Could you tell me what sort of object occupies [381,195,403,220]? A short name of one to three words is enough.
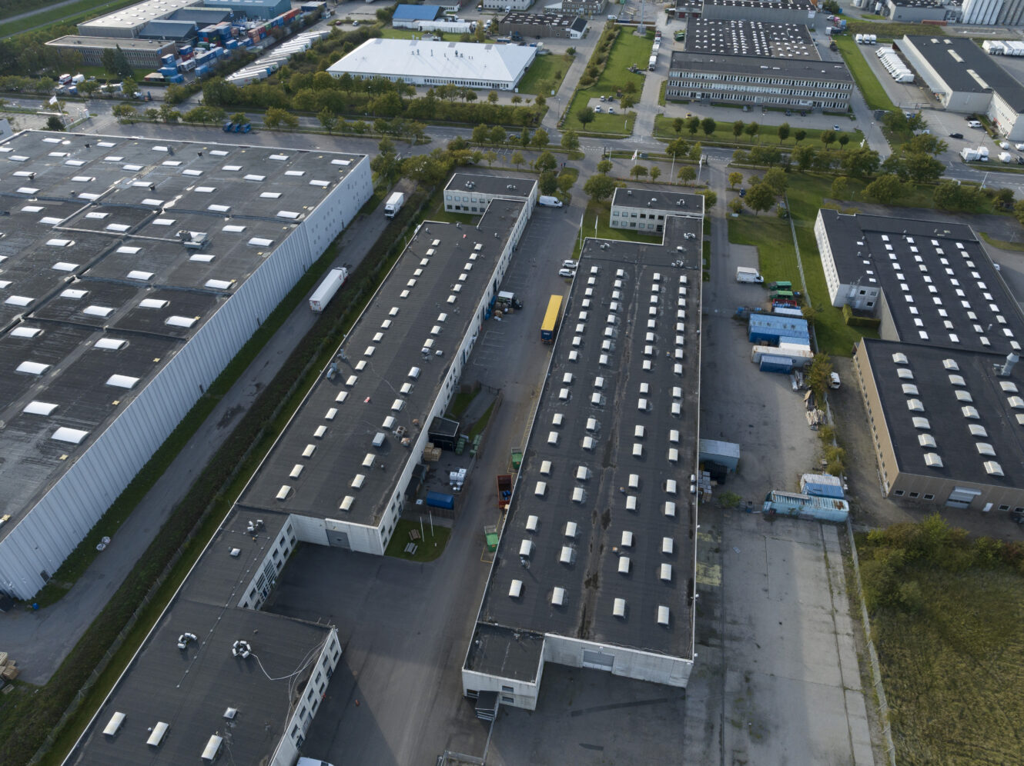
truck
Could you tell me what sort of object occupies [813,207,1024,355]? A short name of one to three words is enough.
building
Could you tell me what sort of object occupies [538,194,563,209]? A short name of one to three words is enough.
vehicle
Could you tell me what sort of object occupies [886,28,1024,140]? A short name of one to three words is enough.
warehouse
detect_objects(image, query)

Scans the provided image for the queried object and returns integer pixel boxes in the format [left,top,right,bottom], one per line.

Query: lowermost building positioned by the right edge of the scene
[848,337,1024,515]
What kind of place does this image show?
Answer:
industrial area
